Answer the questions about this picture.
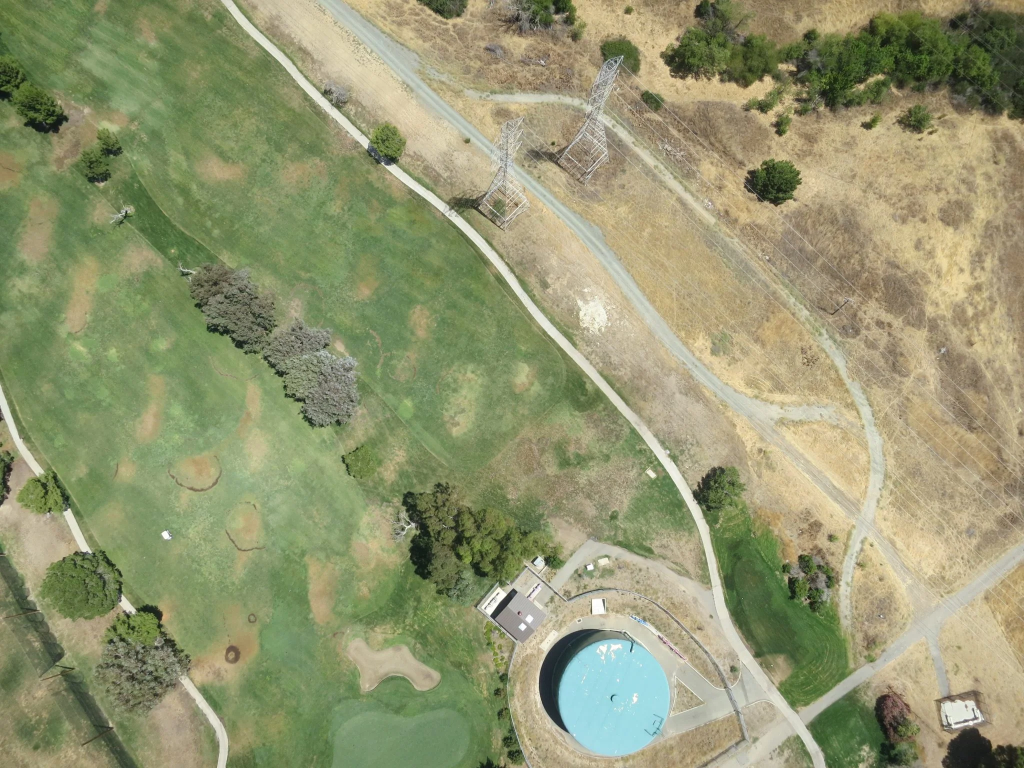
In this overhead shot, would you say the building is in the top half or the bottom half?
bottom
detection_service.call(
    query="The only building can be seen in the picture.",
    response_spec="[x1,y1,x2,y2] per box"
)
[495,590,546,644]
